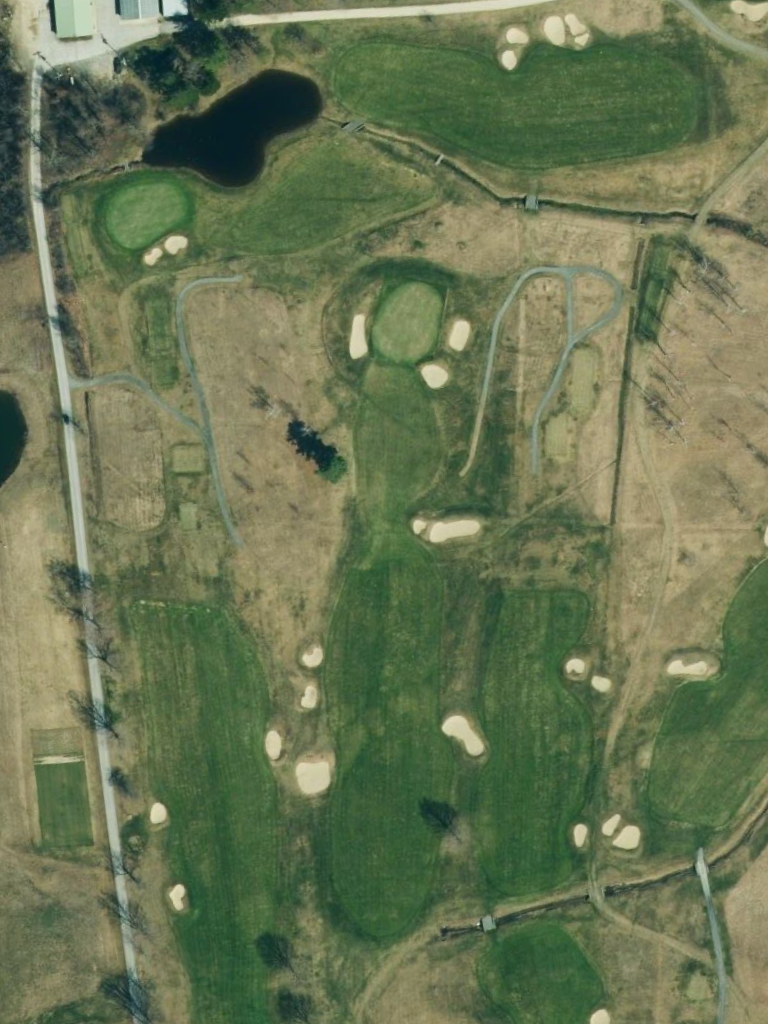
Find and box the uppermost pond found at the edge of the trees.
[141,68,322,188]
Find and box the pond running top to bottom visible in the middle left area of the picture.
[0,390,28,483]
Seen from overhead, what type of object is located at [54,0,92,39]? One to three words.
shed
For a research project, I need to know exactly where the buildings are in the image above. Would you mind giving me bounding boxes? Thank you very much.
[161,0,186,16]
[119,0,158,21]
[54,0,92,39]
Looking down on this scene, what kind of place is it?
golf course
